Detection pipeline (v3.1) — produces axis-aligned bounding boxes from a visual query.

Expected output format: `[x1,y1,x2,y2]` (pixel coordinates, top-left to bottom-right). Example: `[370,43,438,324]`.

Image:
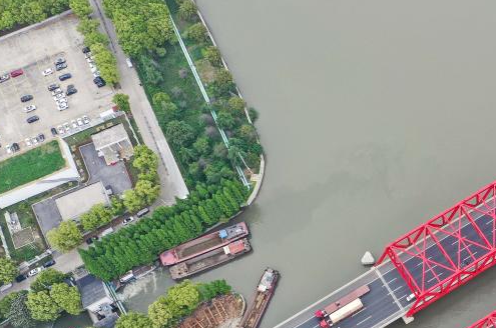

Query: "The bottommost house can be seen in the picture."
[77,275,121,322]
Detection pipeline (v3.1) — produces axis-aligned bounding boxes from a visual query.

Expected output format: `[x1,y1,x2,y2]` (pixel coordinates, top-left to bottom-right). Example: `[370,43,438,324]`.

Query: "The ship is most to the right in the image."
[240,267,279,328]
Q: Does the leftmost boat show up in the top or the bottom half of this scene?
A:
bottom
